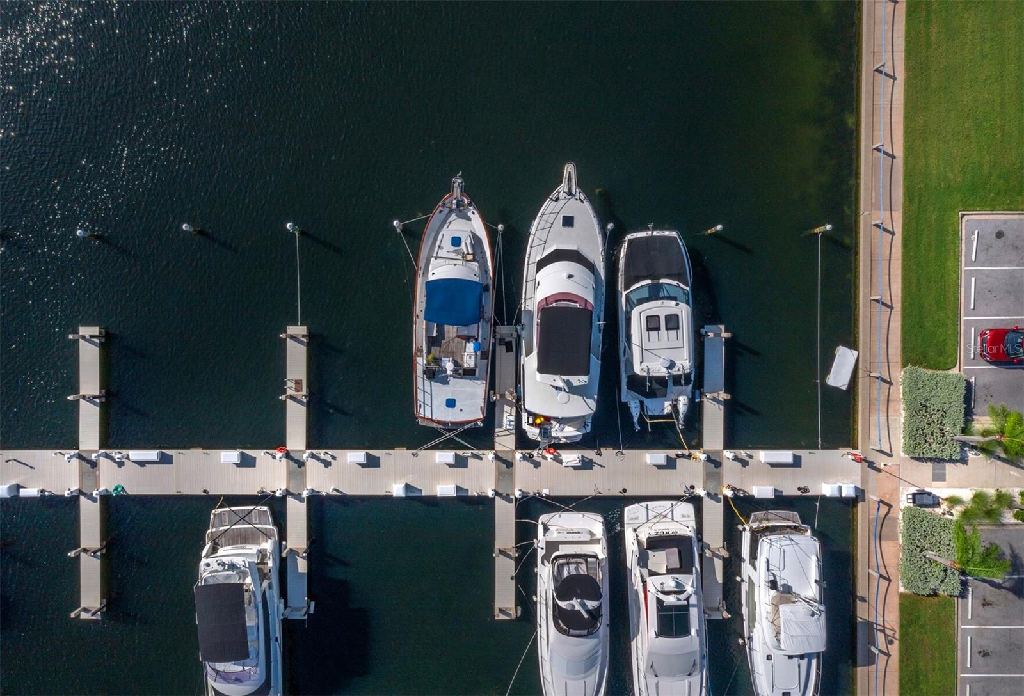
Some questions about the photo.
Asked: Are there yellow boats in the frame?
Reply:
No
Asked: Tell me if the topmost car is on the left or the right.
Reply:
right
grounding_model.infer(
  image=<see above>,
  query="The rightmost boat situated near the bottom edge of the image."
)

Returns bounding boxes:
[740,510,827,696]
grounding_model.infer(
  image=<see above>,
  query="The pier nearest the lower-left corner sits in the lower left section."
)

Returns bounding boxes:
[79,496,105,619]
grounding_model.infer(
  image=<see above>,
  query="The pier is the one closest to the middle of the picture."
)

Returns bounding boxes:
[495,325,515,450]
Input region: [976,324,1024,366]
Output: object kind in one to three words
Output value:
car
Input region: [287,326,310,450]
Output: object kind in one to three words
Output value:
pier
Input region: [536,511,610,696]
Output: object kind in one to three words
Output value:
boat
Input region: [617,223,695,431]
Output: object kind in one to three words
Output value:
boat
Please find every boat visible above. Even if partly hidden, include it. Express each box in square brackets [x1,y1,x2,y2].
[536,511,610,696]
[520,161,606,442]
[617,223,695,431]
[740,510,827,696]
[193,505,285,696]
[413,171,494,429]
[621,499,709,696]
